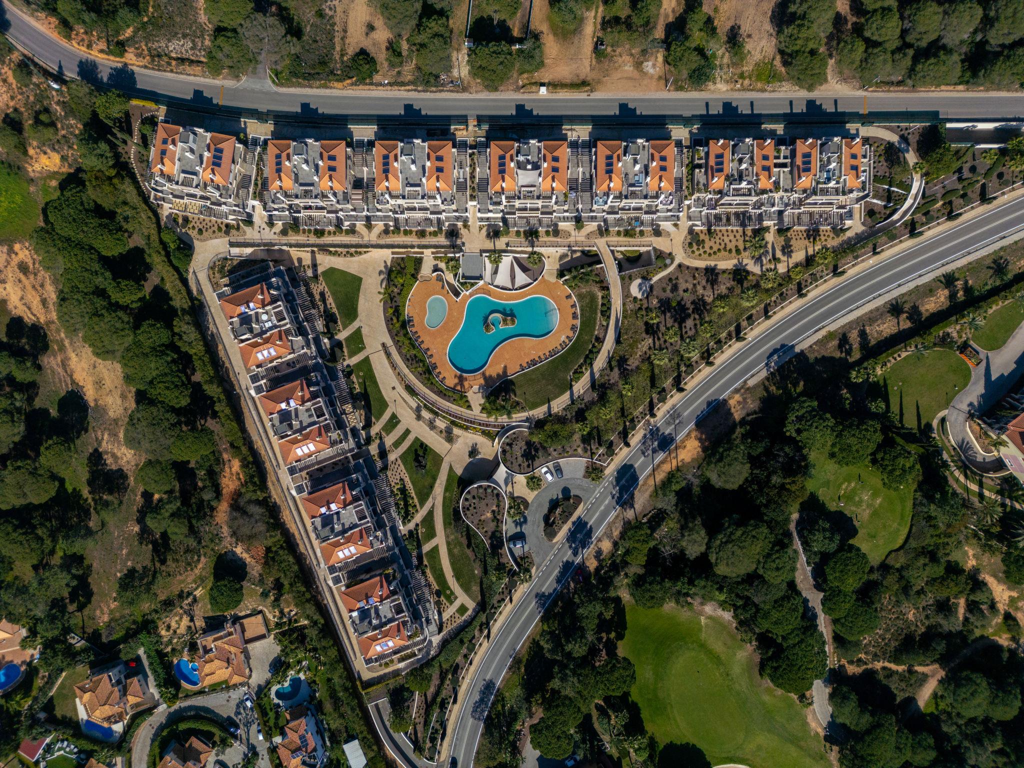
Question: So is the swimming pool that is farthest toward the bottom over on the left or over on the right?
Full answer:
You can find the swimming pool that is farthest toward the bottom on the left side of the picture.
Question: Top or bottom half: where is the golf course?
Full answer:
The golf course is in the bottom half of the image.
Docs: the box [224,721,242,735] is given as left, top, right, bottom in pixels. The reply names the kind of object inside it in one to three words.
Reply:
car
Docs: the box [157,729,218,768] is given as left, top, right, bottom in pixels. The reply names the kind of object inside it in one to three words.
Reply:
house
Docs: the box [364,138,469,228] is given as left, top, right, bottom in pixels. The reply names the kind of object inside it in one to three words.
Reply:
building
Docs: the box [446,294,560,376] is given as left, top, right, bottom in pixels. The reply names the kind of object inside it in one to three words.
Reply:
swimming pool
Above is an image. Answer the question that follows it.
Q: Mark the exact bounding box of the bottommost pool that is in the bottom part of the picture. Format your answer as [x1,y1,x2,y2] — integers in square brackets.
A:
[84,718,114,739]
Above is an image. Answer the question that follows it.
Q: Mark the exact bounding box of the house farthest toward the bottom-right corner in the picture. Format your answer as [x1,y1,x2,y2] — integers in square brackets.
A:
[986,407,1024,483]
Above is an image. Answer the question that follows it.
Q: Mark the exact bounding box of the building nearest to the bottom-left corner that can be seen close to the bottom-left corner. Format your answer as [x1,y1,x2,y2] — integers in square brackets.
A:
[18,732,54,761]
